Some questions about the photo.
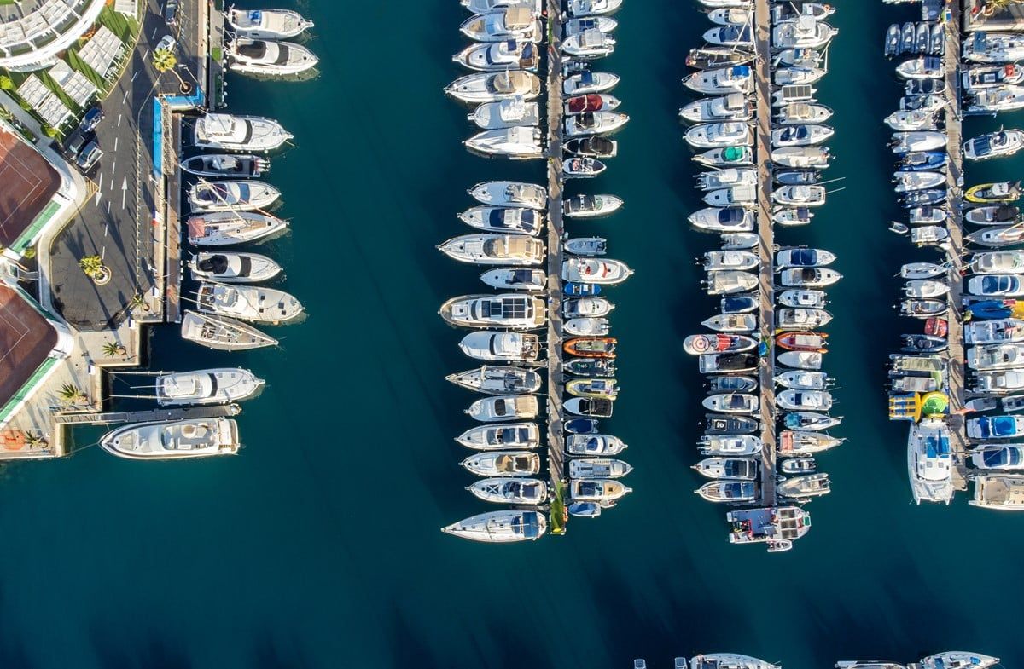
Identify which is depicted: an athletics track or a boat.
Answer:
boat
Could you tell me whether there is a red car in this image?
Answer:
No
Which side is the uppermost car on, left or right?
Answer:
left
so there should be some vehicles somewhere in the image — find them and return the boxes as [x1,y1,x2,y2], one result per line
[75,105,106,129]
[161,0,181,26]
[75,139,106,169]
[61,125,94,156]
[152,30,179,52]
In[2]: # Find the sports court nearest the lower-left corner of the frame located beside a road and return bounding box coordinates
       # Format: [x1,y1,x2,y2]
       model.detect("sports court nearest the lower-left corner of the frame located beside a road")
[0,281,82,444]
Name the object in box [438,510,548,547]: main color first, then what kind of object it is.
white boat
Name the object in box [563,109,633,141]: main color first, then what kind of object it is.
white boat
